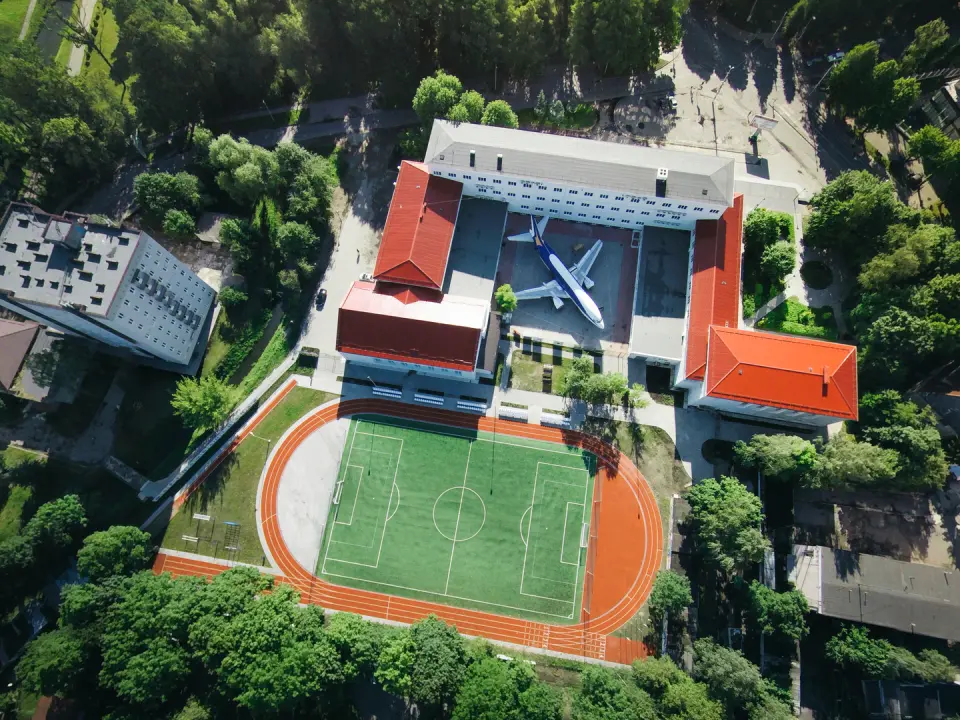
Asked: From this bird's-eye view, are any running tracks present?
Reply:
Yes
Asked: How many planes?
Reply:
one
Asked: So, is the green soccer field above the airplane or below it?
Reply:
below it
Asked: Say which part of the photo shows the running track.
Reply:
bottom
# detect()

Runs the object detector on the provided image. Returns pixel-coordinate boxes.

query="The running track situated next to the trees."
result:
[152,392,663,666]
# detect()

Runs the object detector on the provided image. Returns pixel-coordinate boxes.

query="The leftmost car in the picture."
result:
[314,288,327,307]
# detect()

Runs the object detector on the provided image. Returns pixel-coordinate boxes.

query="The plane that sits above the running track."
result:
[503,215,603,327]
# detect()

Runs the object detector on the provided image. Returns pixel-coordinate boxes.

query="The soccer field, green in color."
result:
[316,415,597,622]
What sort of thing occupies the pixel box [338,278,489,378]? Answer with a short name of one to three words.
building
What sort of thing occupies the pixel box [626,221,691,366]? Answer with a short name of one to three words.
building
